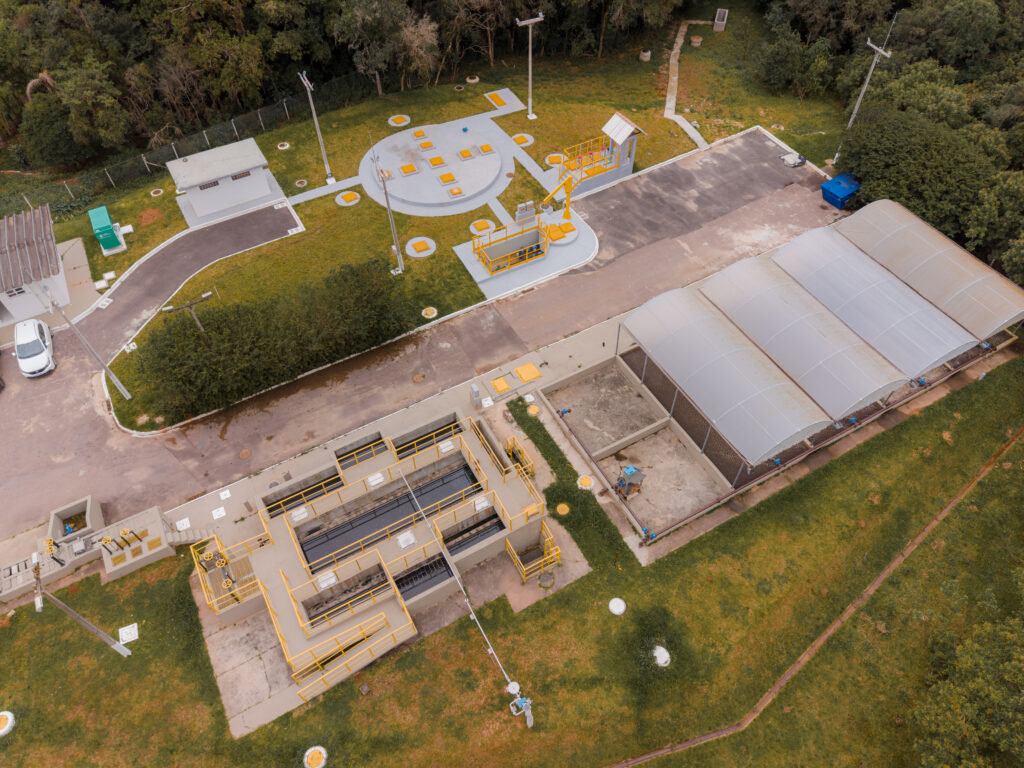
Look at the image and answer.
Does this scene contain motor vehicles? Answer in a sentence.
Yes, you can see a motor vehicle in this photo.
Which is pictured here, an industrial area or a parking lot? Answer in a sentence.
This image shows an industrial area.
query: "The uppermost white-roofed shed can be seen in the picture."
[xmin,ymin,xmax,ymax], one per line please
[600,112,647,168]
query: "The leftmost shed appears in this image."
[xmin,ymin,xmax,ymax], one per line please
[0,204,70,322]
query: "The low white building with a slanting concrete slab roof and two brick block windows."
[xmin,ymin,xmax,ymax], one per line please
[165,134,274,217]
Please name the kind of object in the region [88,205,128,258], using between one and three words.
building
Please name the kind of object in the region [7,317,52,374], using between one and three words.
car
